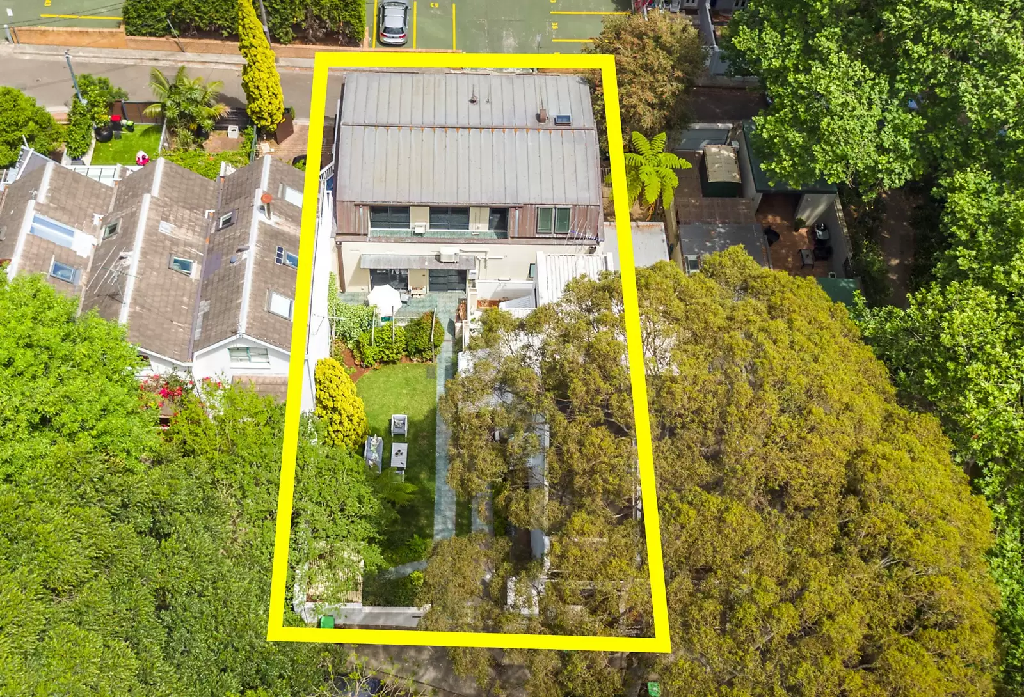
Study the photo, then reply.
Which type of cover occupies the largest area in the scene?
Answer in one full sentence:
Most of the picture is covered by trees.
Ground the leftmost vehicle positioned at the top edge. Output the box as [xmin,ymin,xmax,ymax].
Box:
[377,0,411,42]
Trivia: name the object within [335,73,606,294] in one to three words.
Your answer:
house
